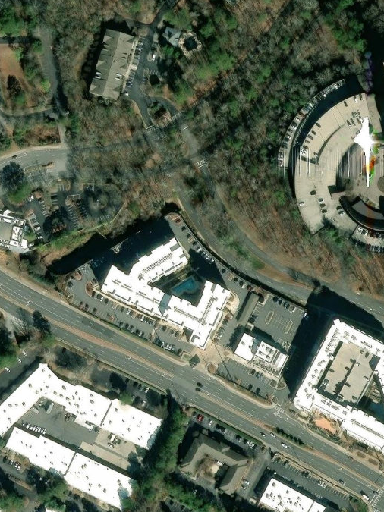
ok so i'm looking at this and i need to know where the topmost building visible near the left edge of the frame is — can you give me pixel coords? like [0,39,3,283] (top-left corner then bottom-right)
[0,210,31,255]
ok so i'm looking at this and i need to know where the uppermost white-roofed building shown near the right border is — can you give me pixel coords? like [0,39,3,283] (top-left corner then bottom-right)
[295,319,384,455]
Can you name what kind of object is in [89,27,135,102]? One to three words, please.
building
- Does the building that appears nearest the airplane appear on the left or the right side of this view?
right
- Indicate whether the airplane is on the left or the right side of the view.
right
